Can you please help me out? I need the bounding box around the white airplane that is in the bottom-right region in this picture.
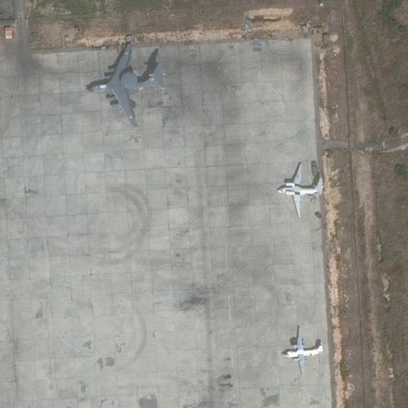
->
[282,329,323,379]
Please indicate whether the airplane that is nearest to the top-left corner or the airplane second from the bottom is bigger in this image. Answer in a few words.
the airplane that is nearest to the top-left corner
